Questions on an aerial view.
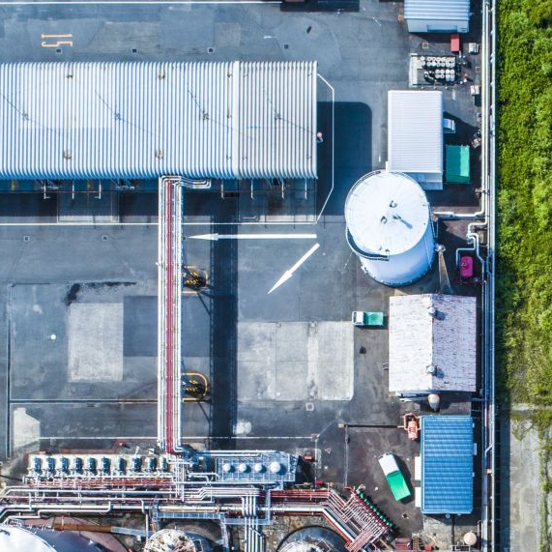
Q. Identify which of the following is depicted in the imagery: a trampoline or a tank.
tank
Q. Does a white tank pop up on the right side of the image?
Yes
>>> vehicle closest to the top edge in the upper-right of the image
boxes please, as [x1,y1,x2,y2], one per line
[443,114,465,136]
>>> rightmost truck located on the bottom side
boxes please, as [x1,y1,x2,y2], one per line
[374,451,410,501]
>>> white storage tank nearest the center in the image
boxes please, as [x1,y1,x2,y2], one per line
[345,167,447,289]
